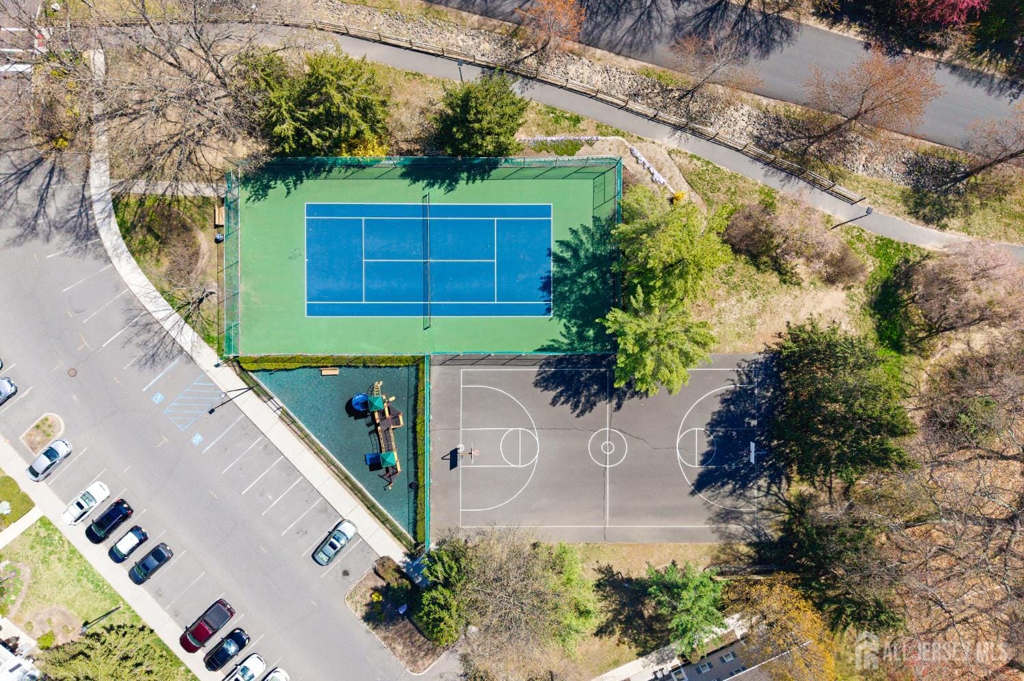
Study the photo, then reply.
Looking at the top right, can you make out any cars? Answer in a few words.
No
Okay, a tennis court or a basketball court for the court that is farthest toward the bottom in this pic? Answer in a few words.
basketball court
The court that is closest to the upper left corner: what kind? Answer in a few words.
tennis court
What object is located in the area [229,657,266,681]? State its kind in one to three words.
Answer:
car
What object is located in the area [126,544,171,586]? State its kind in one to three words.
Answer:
car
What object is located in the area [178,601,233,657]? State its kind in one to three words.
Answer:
truck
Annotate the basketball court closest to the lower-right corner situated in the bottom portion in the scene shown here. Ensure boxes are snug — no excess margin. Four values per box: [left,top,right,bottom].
[427,352,779,544]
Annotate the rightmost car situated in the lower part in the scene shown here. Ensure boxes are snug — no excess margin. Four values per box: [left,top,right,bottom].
[311,522,356,570]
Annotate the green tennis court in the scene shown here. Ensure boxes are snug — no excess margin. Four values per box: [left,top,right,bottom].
[239,167,616,354]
